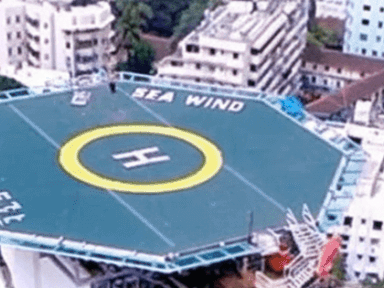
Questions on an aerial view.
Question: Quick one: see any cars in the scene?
No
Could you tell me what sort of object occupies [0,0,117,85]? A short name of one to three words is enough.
building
